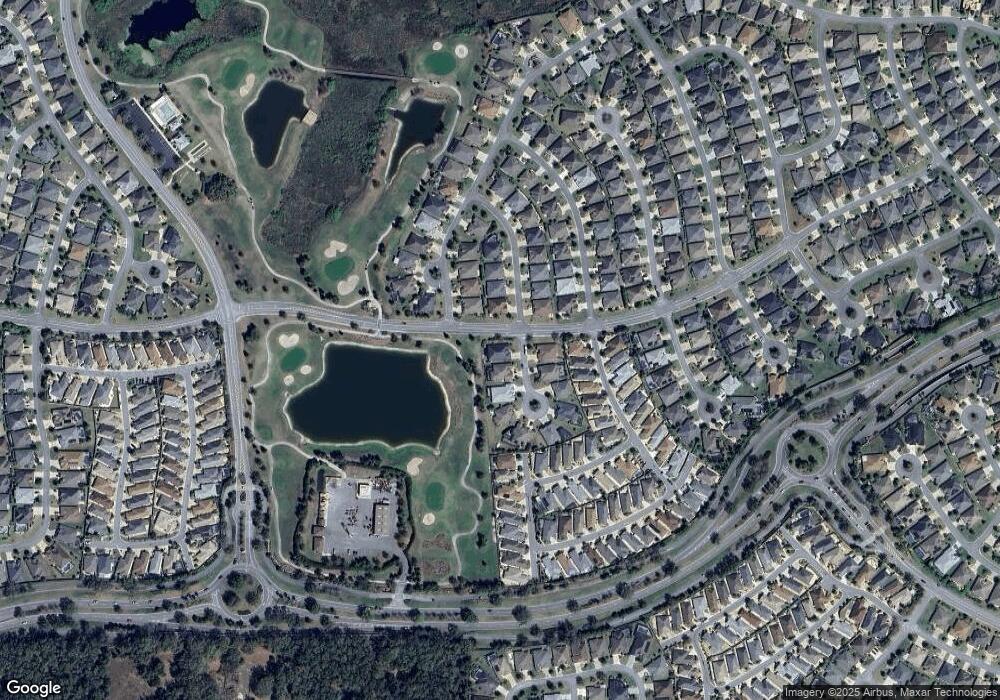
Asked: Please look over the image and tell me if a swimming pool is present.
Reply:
Yes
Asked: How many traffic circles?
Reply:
two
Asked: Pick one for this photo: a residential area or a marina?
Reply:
residential area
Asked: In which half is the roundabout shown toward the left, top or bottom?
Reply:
bottom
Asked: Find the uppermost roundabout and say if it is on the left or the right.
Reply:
right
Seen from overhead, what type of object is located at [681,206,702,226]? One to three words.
house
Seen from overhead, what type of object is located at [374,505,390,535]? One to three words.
barn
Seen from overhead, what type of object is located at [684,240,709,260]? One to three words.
house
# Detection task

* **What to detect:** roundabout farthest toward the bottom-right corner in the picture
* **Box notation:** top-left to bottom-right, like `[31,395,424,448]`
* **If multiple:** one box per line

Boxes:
[773,421,839,485]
